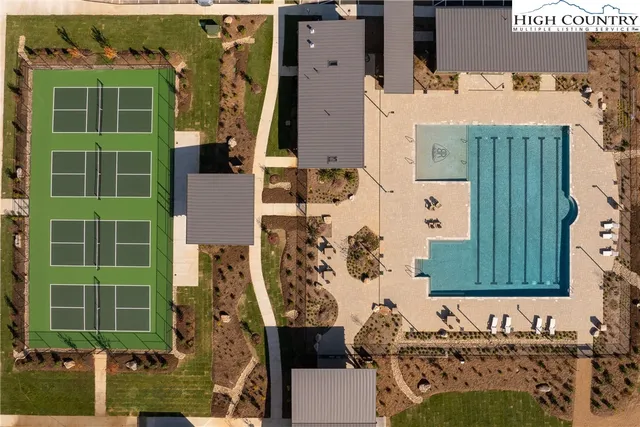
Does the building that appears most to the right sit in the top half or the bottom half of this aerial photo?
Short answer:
top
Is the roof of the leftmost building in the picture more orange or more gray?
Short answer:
gray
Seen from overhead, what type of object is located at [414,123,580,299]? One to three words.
swimming pool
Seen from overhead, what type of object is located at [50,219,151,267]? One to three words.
sports court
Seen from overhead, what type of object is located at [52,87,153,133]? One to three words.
sports court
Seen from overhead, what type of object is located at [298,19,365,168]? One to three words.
building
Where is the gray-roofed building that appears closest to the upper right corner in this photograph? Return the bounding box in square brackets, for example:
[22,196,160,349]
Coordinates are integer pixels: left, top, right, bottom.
[436,8,589,76]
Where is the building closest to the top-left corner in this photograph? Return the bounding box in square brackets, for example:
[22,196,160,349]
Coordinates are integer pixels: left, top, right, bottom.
[187,174,255,245]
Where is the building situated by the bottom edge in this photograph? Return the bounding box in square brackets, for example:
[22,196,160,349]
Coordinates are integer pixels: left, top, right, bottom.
[291,368,377,427]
